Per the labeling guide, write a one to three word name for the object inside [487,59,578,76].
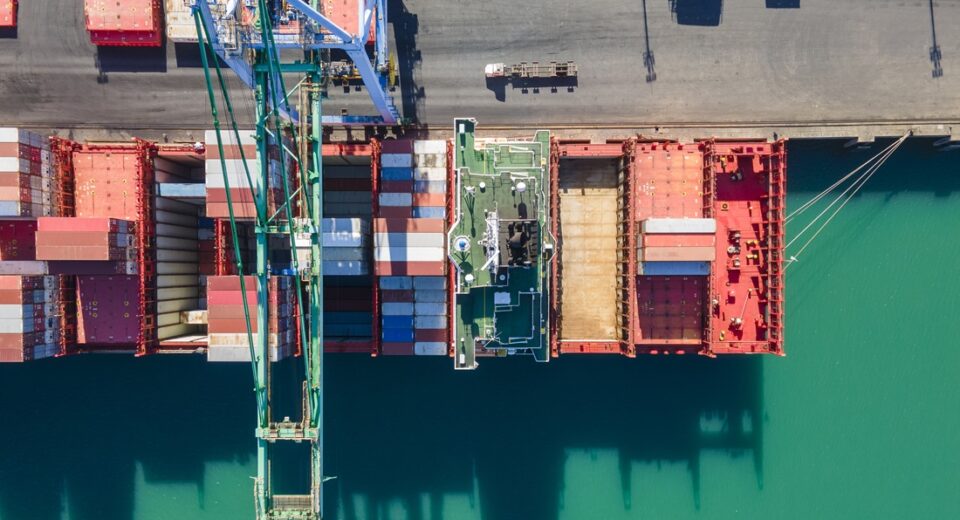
vehicle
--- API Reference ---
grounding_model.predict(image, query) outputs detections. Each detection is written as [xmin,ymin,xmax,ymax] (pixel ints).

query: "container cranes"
[189,0,403,520]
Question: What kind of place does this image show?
port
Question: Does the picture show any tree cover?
No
